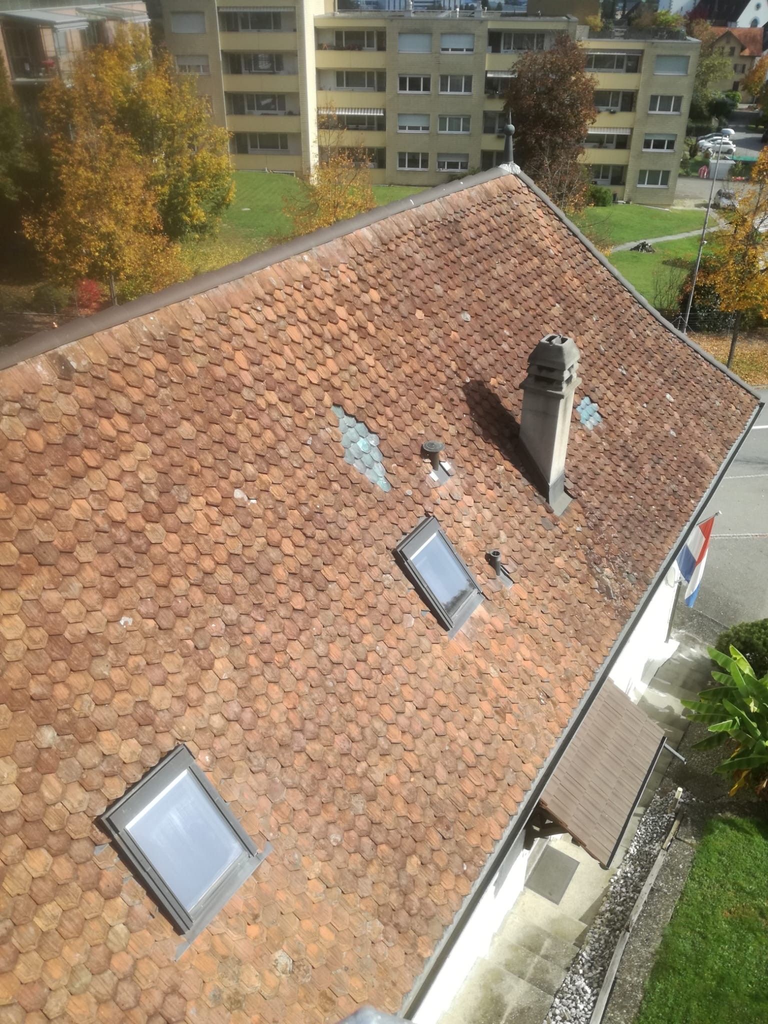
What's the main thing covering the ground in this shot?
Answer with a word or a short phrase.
buildings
